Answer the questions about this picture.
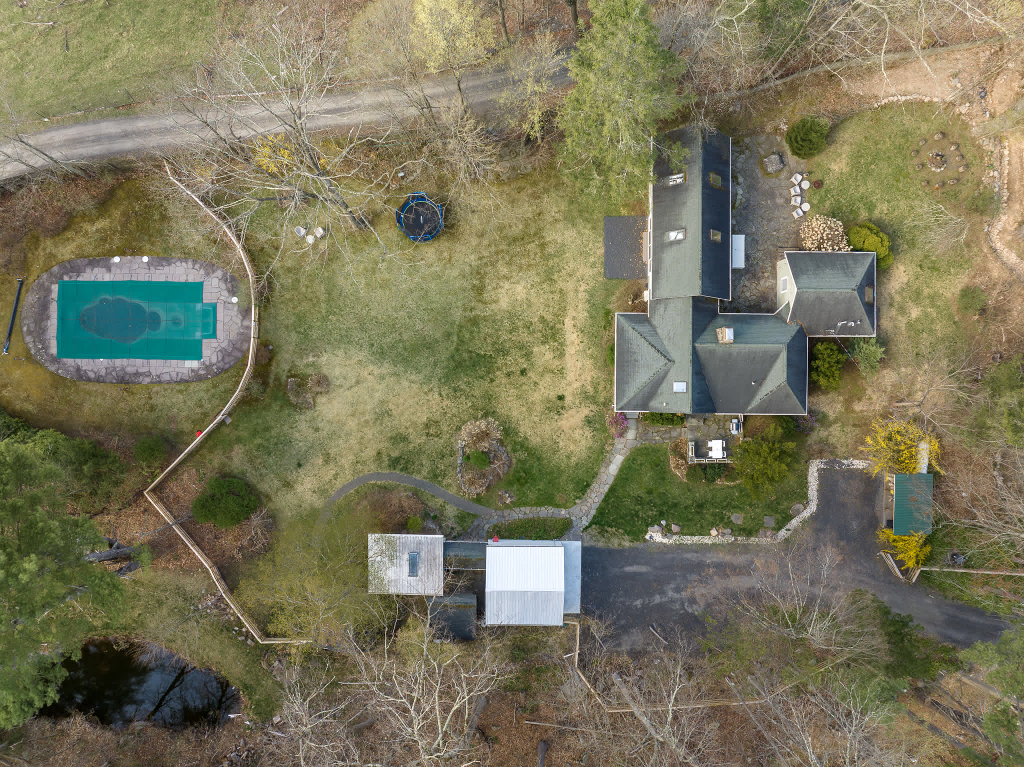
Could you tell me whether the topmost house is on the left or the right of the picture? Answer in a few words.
right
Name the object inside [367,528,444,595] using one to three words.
building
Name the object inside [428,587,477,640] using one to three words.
shed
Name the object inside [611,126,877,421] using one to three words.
house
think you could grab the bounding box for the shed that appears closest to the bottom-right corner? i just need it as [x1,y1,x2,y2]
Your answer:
[883,472,934,535]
